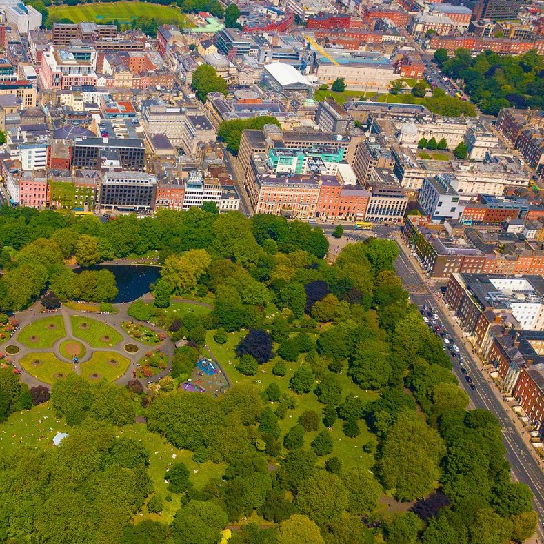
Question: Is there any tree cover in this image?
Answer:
Yes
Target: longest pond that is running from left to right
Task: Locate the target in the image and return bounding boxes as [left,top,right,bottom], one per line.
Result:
[69,265,167,304]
